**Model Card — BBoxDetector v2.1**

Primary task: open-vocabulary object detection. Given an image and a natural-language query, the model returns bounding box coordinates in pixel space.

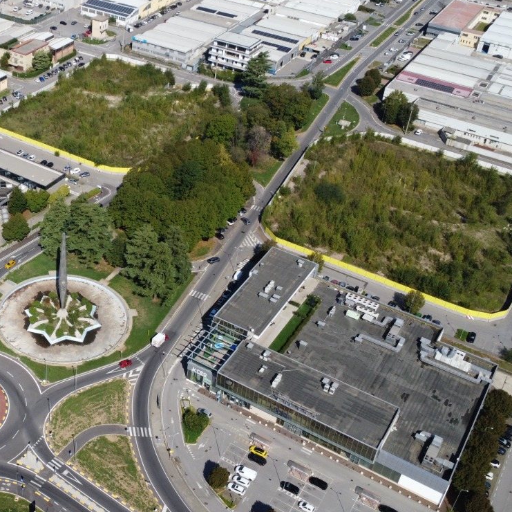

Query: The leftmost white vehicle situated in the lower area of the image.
[150,325,173,349]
